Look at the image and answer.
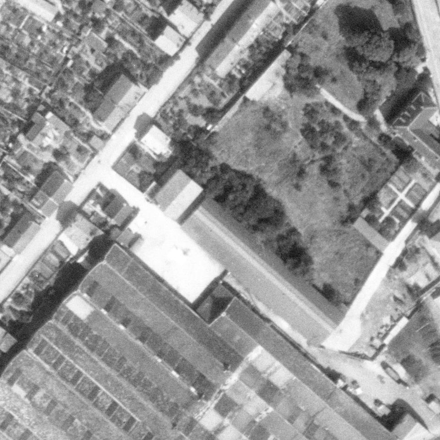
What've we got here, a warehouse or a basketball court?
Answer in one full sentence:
I can see a warehouse in this picture.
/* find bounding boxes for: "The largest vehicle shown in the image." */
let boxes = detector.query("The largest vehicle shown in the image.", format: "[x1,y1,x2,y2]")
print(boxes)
[383,366,402,384]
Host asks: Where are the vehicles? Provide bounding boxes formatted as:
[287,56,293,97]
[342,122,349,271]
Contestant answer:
[351,386,361,395]
[383,366,402,384]
[375,404,389,416]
